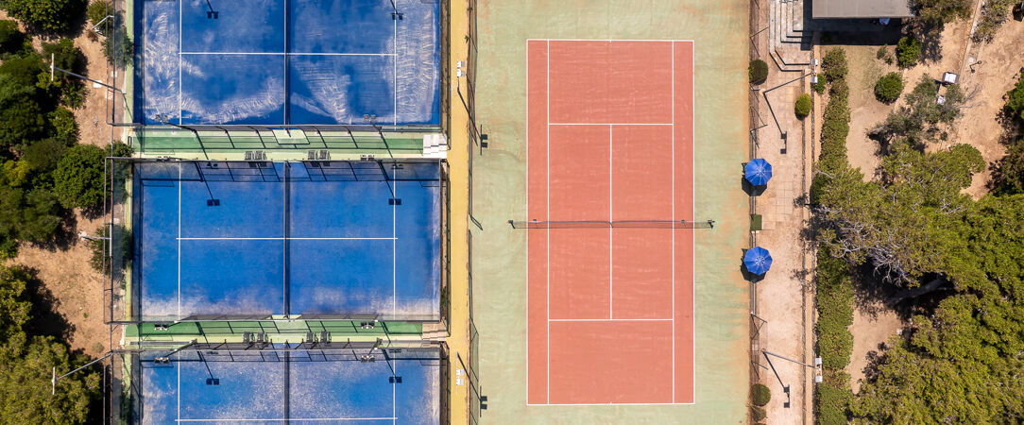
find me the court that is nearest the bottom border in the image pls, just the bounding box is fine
[134,342,440,425]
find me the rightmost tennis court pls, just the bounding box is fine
[471,0,749,425]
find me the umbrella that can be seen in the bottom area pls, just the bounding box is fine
[744,247,773,274]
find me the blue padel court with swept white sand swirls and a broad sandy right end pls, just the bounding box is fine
[134,0,439,130]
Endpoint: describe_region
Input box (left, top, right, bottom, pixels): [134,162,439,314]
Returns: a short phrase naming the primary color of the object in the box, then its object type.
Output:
blue sports court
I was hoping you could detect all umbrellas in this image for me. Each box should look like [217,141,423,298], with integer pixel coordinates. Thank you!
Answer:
[744,247,773,274]
[744,157,774,186]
